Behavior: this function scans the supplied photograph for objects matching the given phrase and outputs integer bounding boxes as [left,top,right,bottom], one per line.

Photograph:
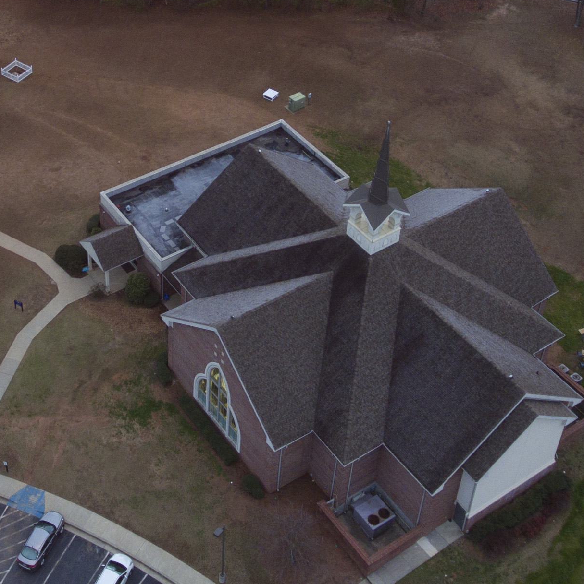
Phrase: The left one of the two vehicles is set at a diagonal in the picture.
[14,511,66,576]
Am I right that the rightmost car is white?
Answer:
Yes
